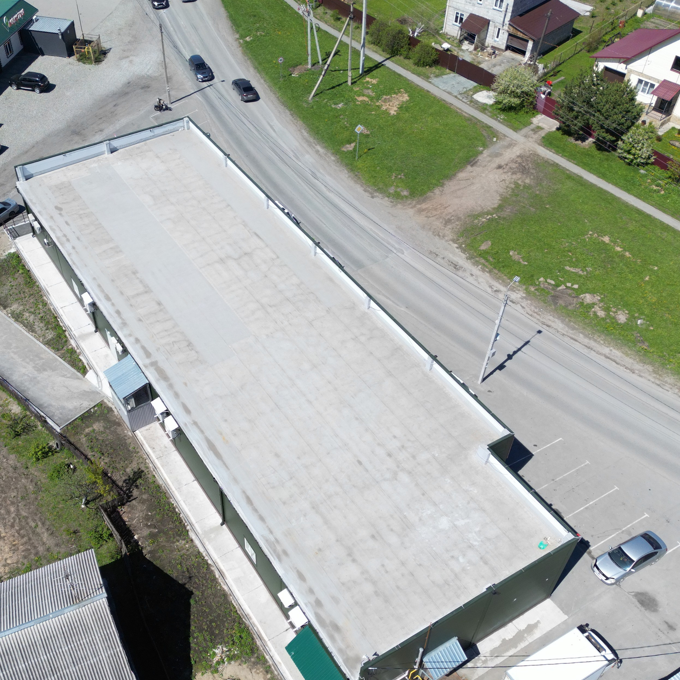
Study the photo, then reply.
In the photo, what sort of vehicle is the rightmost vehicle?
automobile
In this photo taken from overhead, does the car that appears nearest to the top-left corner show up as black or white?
black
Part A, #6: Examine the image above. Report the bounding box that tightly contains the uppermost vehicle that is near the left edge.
[7,70,50,93]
